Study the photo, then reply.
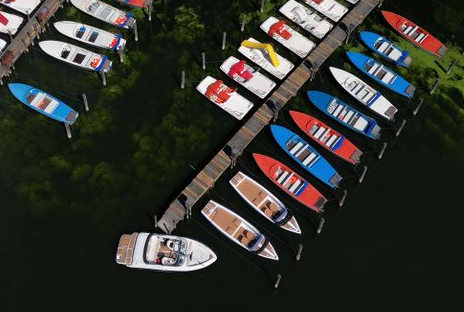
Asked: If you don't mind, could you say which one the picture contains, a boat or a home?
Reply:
boat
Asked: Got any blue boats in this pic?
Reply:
Yes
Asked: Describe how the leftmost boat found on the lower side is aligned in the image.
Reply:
from left to right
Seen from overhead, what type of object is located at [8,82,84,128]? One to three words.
boat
